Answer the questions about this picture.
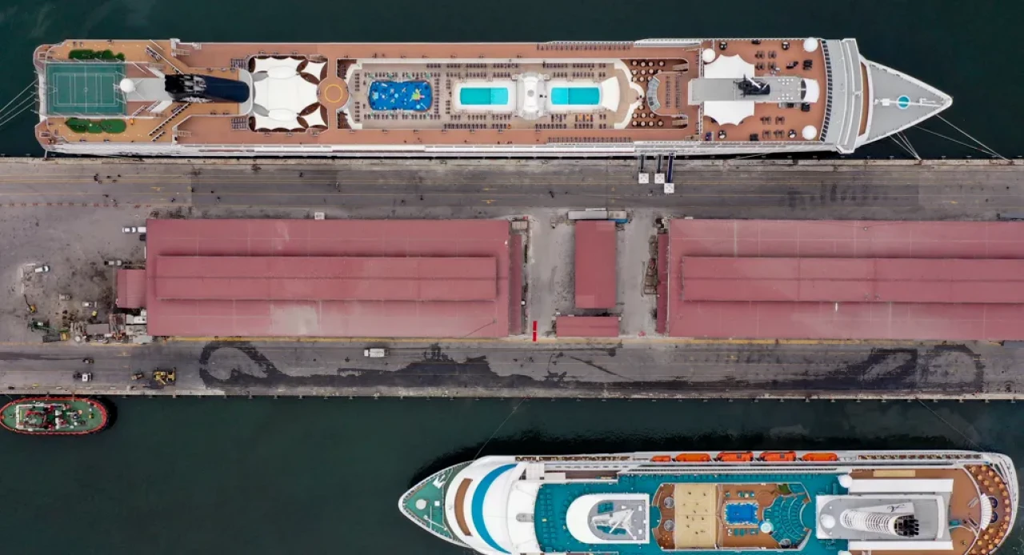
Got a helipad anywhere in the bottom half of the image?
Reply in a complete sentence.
No, there's no helipad to be seen in the bottom half of the image.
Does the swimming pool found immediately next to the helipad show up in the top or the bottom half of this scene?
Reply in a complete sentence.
The swimming pool found immediately next to the helipad is in the top half of the image.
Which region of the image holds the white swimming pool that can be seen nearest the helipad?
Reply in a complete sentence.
The white swimming pool that can be seen nearest the helipad sits in the top section of the image.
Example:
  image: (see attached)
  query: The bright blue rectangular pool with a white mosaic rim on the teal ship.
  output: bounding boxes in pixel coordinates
[724,502,759,525]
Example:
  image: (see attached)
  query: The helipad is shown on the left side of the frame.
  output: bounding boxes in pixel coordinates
[318,78,351,110]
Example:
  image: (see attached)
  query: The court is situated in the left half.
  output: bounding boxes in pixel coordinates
[33,56,126,115]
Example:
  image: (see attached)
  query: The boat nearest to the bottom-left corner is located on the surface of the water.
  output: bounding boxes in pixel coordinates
[0,398,108,435]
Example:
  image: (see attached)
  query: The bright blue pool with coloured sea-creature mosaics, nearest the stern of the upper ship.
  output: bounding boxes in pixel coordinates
[367,80,433,113]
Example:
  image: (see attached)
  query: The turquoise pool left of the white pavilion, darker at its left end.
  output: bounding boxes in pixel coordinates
[453,80,516,112]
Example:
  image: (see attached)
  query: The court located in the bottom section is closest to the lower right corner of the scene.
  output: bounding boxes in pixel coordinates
[674,483,718,550]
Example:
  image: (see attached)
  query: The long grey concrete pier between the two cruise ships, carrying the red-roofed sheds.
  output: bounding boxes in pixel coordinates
[0,155,1024,400]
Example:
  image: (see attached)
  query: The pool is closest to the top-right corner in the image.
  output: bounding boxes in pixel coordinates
[548,80,605,112]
